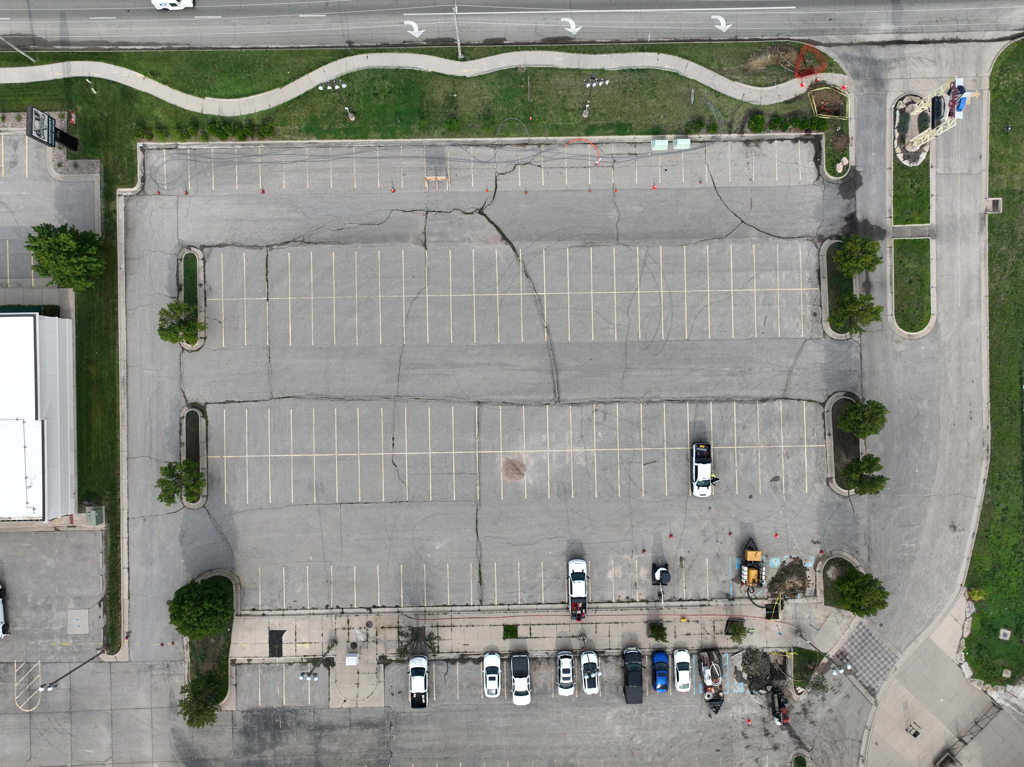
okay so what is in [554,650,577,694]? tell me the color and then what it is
white car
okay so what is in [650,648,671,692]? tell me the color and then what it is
blue car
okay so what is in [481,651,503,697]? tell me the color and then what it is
white car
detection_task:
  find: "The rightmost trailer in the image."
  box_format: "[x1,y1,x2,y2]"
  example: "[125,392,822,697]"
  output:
[740,535,766,588]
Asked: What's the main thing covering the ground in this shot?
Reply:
paved ground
